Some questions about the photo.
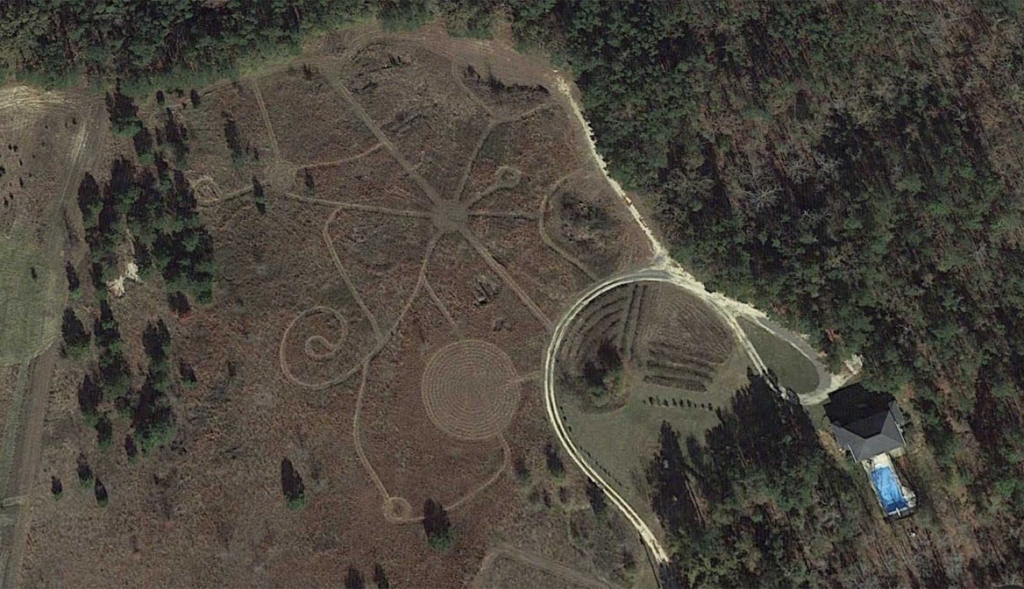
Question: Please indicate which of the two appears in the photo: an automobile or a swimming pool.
swimming pool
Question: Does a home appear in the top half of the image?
No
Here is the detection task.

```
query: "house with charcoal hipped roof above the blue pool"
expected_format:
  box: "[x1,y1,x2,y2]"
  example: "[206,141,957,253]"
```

[830,399,909,466]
